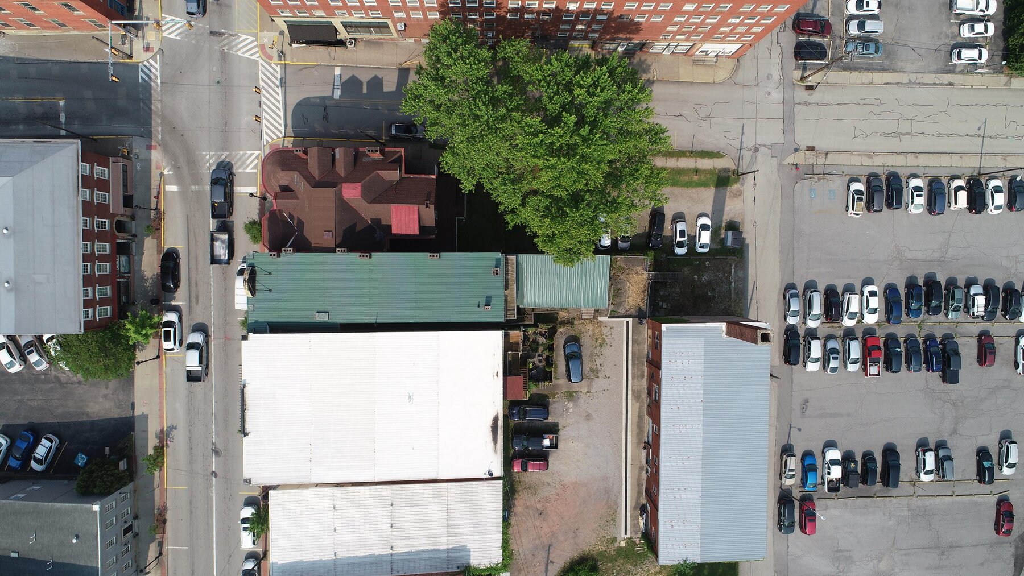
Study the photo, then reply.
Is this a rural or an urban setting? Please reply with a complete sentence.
From above, the setting appears urban.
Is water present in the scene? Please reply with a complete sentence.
No, there is no water in the image.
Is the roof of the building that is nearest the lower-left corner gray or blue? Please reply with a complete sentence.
The roof of the building that is nearest the lower-left corner is gray.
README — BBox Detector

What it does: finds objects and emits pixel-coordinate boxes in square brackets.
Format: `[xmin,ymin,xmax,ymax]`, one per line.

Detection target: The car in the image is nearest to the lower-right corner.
[991,498,1012,535]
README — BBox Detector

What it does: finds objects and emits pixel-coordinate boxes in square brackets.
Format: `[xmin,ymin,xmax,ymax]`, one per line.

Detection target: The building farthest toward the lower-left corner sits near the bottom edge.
[0,482,139,576]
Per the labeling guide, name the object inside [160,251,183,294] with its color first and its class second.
black car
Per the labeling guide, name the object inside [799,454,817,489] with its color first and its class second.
blue car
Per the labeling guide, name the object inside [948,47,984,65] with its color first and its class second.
white car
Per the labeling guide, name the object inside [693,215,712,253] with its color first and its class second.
white car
